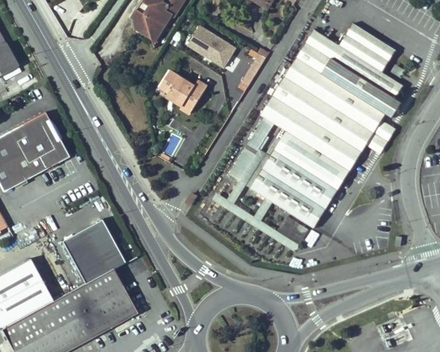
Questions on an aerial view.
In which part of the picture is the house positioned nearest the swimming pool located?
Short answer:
top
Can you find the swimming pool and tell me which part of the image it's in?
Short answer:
center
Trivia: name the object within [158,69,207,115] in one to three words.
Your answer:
house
